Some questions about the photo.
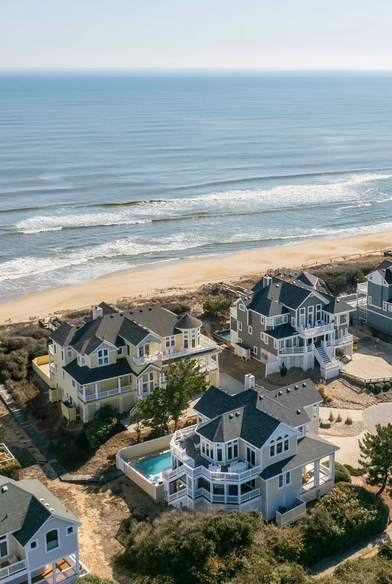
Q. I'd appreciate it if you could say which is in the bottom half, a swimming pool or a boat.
swimming pool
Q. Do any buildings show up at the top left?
No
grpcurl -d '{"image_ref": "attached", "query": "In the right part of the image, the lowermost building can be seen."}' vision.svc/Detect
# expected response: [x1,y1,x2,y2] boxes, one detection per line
[163,368,342,524]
